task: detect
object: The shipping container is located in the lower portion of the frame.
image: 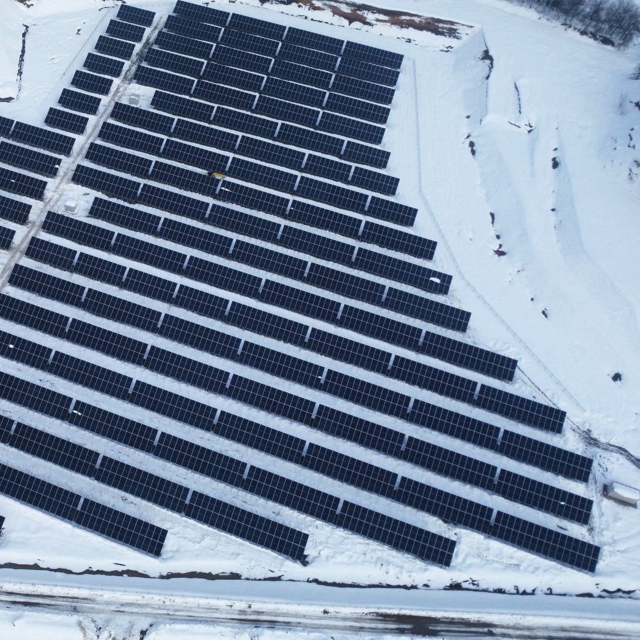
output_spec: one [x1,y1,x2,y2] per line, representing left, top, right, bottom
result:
[603,481,640,509]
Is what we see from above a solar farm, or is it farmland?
solar farm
